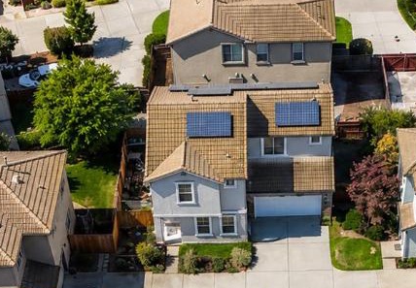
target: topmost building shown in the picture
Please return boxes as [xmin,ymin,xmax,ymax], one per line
[164,0,337,85]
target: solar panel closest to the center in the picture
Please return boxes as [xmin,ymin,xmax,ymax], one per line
[185,109,232,136]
